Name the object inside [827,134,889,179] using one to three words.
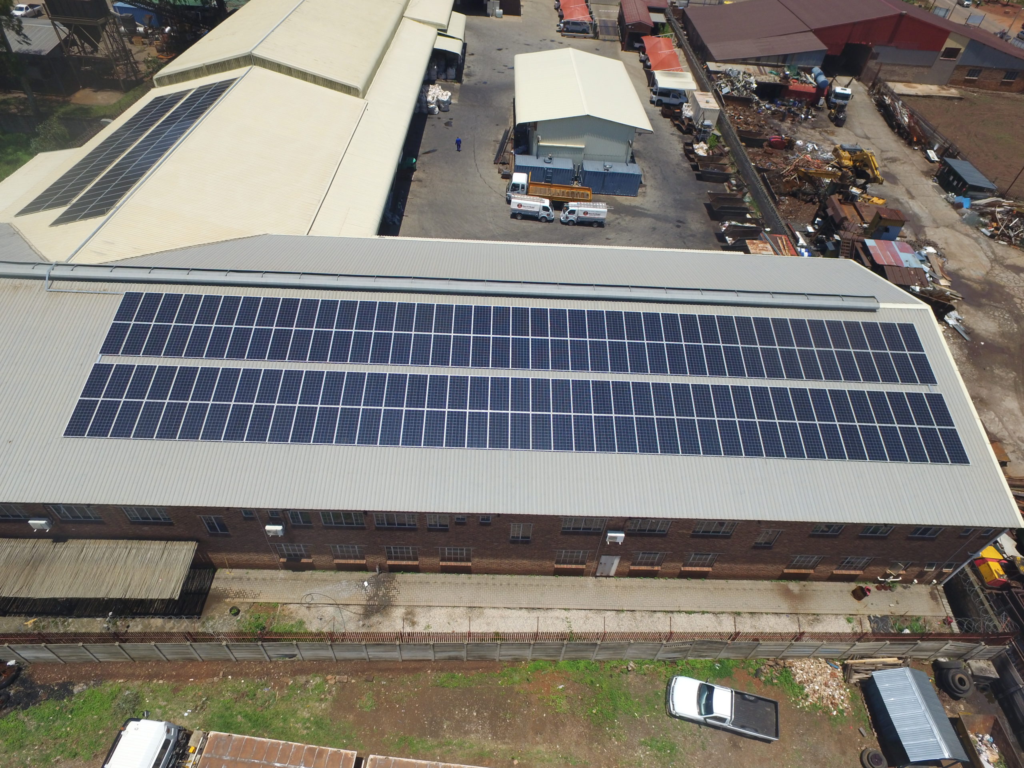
work vehicle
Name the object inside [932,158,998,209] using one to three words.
shed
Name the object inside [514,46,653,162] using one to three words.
building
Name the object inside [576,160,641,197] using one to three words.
shipping container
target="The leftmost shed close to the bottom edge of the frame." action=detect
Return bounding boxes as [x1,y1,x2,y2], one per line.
[854,666,968,768]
